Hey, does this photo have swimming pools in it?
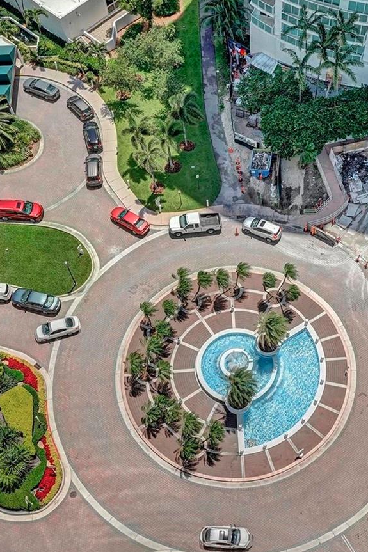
Yes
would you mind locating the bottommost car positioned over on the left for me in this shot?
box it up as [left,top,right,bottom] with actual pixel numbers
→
[33,318,83,345]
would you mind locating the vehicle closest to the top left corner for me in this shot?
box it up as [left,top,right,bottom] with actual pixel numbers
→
[21,78,62,102]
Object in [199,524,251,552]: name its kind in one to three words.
car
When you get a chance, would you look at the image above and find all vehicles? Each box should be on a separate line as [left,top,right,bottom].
[168,211,223,237]
[0,283,13,304]
[21,78,62,102]
[11,290,61,316]
[63,93,97,122]
[0,198,42,221]
[199,524,251,552]
[240,217,285,244]
[33,318,83,345]
[81,119,105,154]
[109,208,151,236]
[83,154,104,190]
